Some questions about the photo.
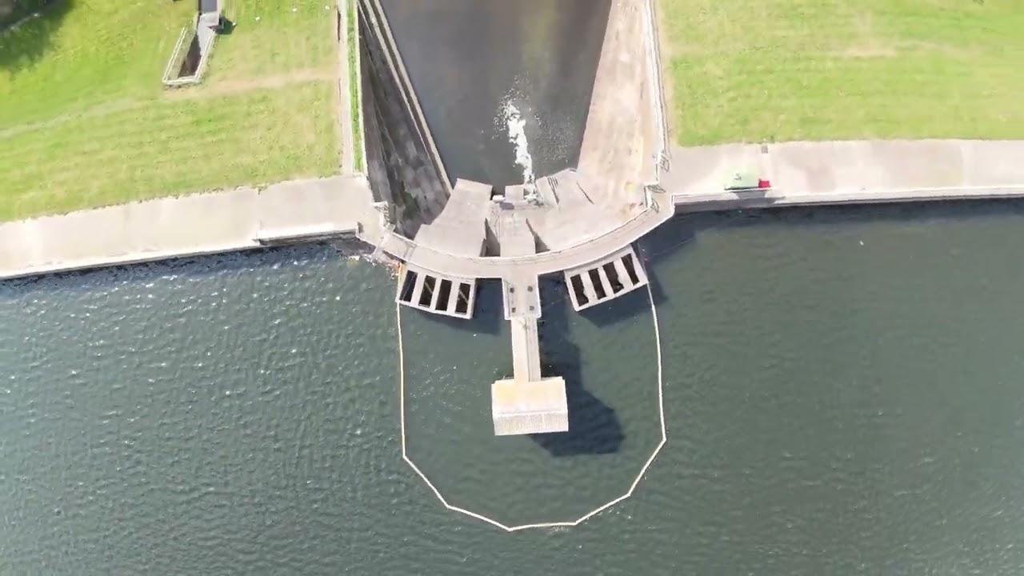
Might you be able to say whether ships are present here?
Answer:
No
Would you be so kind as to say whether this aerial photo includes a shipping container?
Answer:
No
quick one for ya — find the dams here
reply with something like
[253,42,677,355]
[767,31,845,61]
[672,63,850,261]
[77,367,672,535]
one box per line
[0,0,1024,281]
